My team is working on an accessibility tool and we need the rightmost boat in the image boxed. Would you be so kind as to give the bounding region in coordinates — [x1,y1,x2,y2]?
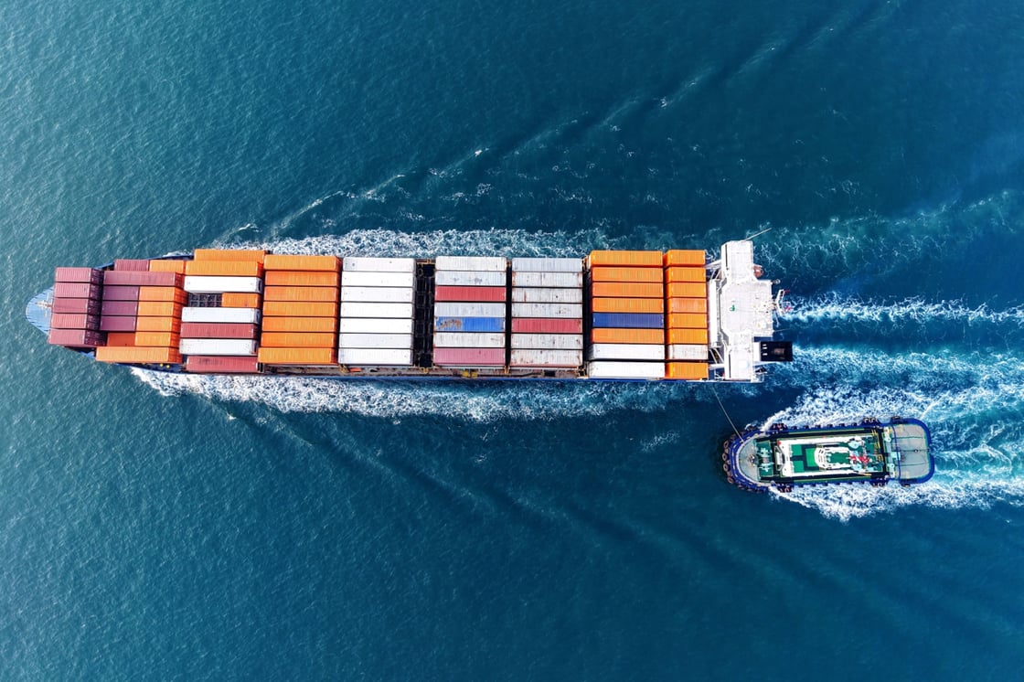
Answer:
[720,416,933,494]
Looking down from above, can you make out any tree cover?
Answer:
No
